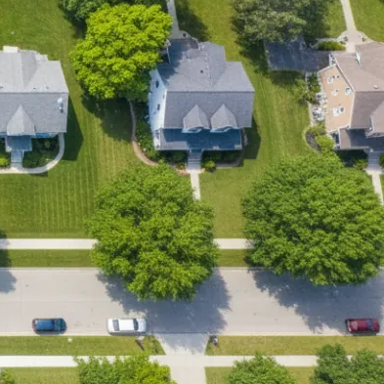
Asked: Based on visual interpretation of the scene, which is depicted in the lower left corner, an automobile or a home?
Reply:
automobile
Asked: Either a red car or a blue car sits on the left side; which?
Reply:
blue car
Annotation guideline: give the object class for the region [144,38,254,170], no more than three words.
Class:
house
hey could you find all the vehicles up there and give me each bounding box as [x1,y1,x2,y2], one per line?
[31,318,66,335]
[107,318,146,335]
[344,318,379,335]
